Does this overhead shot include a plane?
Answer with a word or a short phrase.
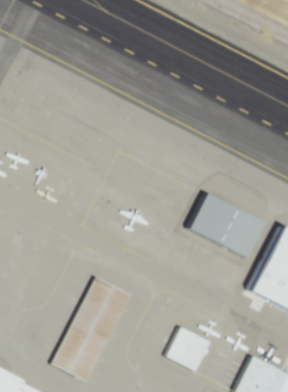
Yes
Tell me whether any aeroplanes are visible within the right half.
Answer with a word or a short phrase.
Yes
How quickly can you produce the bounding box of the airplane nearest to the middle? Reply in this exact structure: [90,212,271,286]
[121,209,149,231]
